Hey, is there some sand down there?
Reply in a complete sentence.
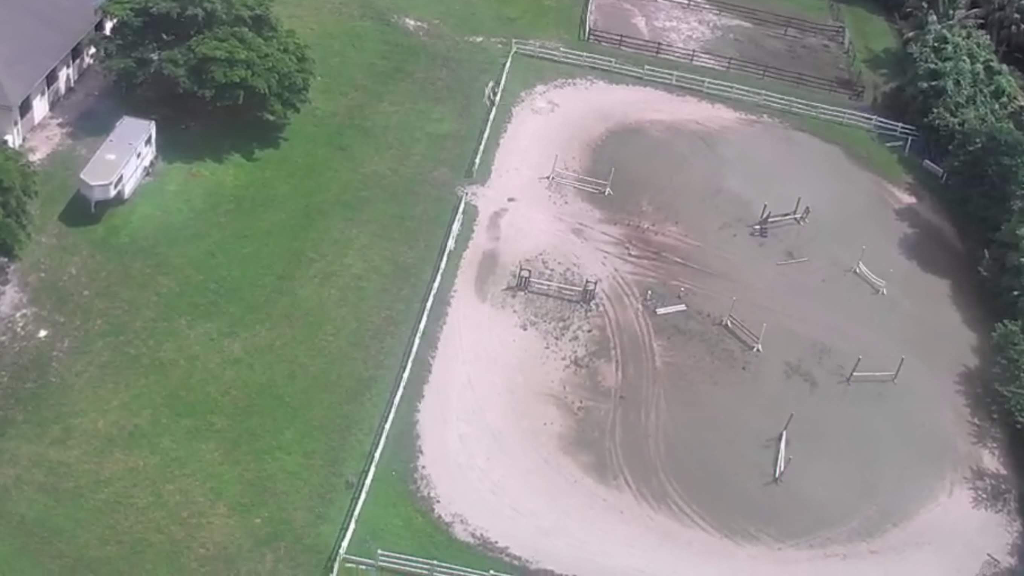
Yes, the picture does contain sand.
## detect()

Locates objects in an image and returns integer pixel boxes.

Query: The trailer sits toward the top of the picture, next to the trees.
[83,116,156,214]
